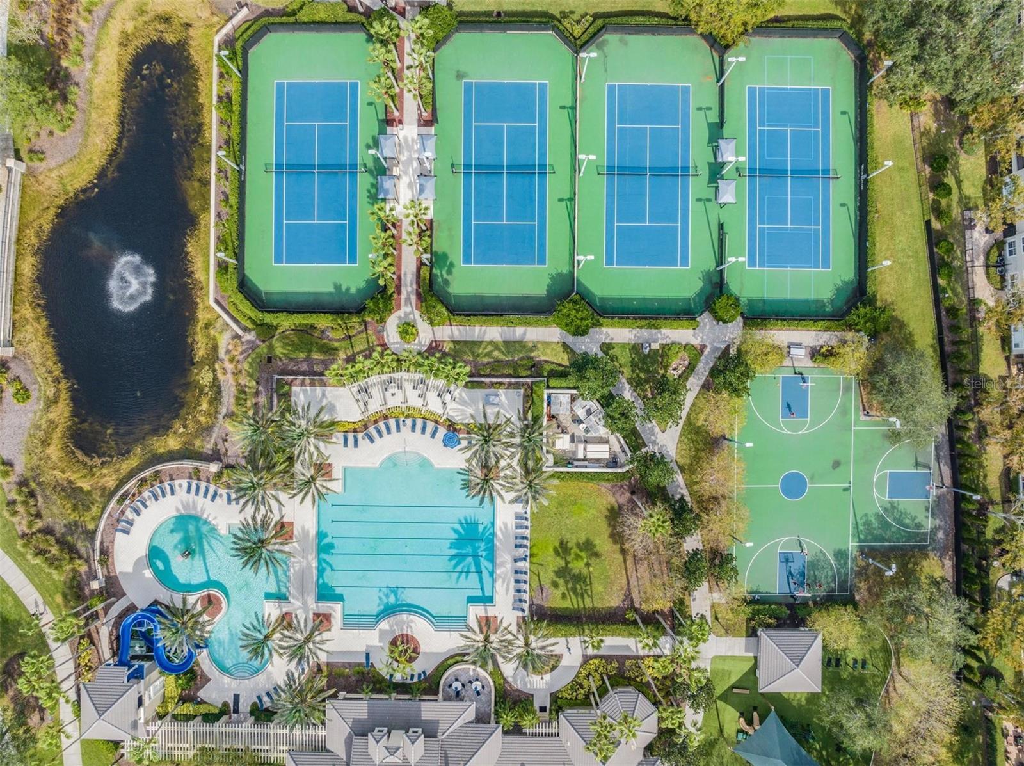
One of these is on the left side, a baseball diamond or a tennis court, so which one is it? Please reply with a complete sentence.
The one visible on the left side is a tennis court.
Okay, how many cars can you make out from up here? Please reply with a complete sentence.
I count no cars.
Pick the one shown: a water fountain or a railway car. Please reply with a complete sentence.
Looking from above, you can make out a water fountain.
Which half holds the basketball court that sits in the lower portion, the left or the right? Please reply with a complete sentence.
The basketball court that sits in the lower portion appears in the right half of the scene.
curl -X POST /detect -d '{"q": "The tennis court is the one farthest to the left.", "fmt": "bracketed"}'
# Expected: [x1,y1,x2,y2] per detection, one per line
[244,33,386,308]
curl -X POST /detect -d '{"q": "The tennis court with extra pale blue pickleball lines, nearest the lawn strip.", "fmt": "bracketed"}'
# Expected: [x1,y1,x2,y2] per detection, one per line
[722,38,860,315]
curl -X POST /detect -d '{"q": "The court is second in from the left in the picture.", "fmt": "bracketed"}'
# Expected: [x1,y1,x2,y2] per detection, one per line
[433,33,576,311]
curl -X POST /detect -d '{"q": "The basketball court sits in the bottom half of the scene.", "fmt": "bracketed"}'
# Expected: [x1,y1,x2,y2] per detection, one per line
[732,368,938,603]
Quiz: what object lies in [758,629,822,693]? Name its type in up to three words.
building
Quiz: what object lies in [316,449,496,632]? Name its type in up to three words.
swimming pool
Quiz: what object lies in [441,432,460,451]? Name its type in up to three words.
umbrella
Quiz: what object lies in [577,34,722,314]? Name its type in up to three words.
tennis court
